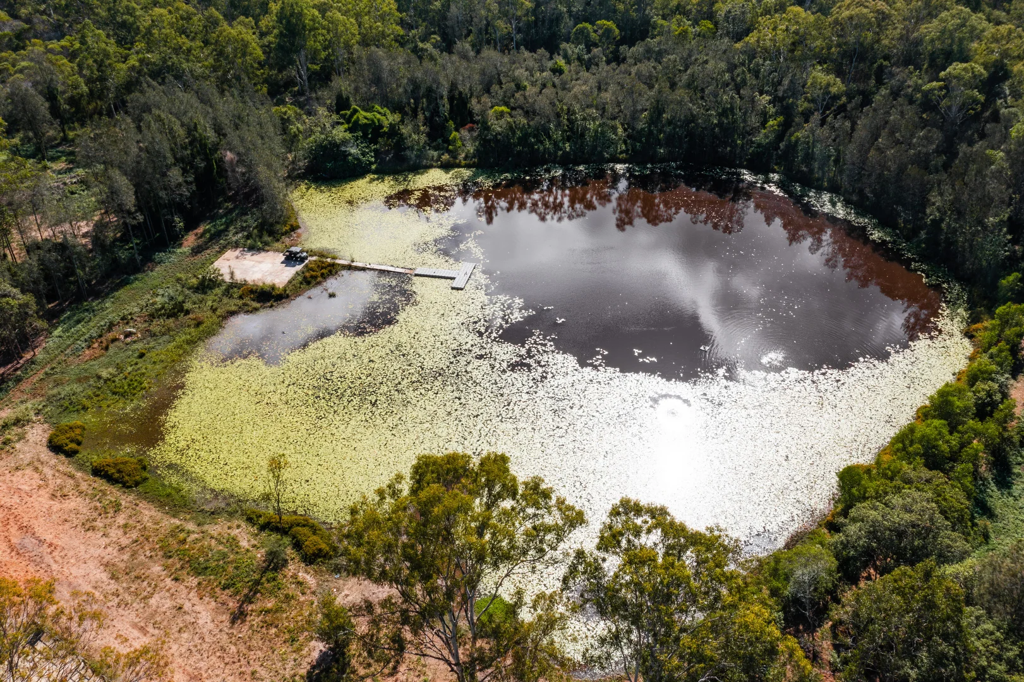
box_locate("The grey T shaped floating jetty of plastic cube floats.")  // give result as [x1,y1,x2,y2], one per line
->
[416,262,471,290]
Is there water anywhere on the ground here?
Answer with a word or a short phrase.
Yes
